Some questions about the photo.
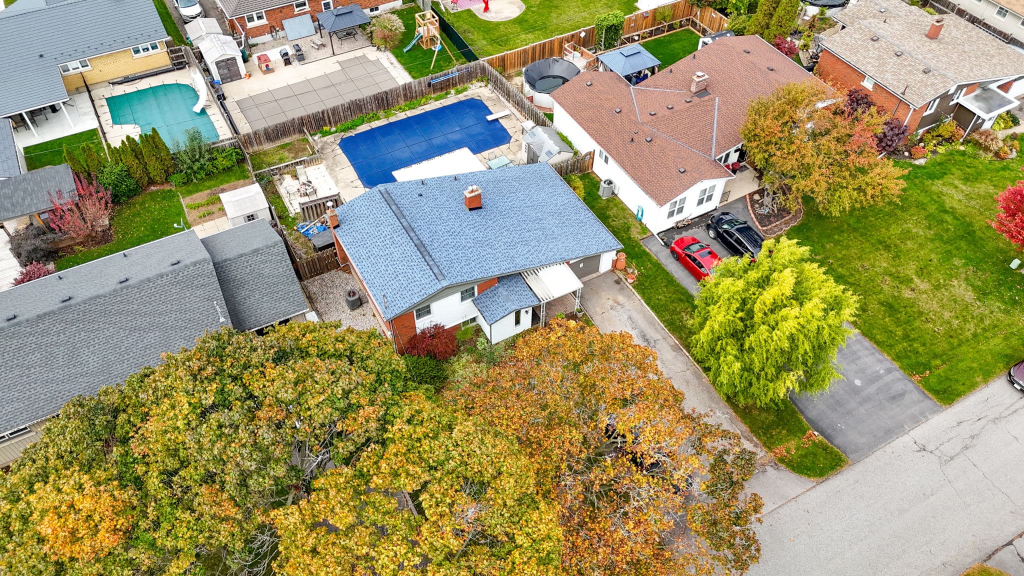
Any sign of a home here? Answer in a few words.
Yes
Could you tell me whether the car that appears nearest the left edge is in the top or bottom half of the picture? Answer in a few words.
top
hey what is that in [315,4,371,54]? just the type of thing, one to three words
gazebo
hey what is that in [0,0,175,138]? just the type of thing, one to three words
house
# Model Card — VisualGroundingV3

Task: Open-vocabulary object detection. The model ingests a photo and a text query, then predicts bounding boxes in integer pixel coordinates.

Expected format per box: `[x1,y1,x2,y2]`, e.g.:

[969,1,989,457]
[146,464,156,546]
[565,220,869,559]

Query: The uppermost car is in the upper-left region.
[172,0,206,24]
